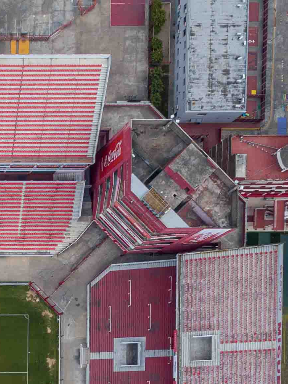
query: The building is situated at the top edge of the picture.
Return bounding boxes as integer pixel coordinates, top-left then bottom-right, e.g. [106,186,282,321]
[174,0,247,121]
